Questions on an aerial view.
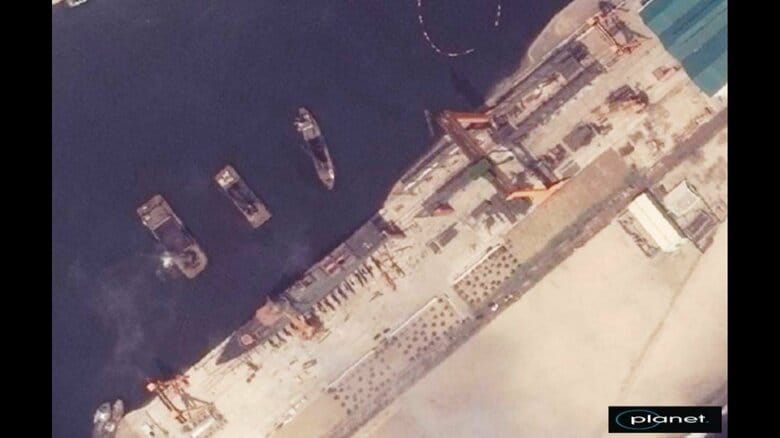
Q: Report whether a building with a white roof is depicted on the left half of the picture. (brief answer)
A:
No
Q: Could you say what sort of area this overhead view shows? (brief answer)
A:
port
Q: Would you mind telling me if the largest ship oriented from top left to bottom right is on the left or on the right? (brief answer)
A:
left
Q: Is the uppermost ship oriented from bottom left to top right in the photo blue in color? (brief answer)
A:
No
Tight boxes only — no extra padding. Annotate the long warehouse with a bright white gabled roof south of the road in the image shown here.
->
[628,193,686,251]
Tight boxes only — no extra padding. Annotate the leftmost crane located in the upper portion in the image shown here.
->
[437,109,570,209]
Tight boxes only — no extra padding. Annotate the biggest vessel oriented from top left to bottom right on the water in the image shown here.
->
[139,193,206,273]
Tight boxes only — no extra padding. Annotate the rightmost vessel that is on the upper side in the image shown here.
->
[294,106,334,190]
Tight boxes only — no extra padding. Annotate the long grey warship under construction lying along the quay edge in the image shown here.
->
[214,220,391,363]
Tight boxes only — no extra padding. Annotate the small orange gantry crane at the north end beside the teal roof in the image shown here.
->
[593,8,650,55]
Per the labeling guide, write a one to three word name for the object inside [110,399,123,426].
boat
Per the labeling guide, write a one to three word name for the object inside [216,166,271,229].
ship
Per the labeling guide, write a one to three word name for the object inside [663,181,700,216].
building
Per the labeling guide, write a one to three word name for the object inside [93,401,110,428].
boat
